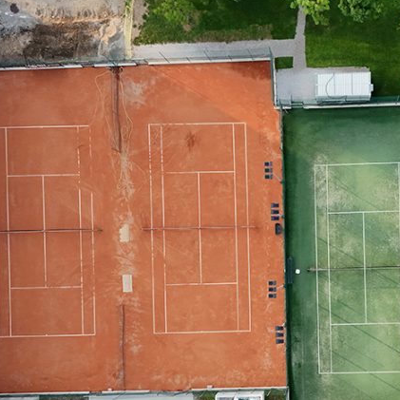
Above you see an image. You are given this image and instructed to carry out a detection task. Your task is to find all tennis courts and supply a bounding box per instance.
[0,64,122,393]
[283,105,400,400]
[117,60,287,390]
